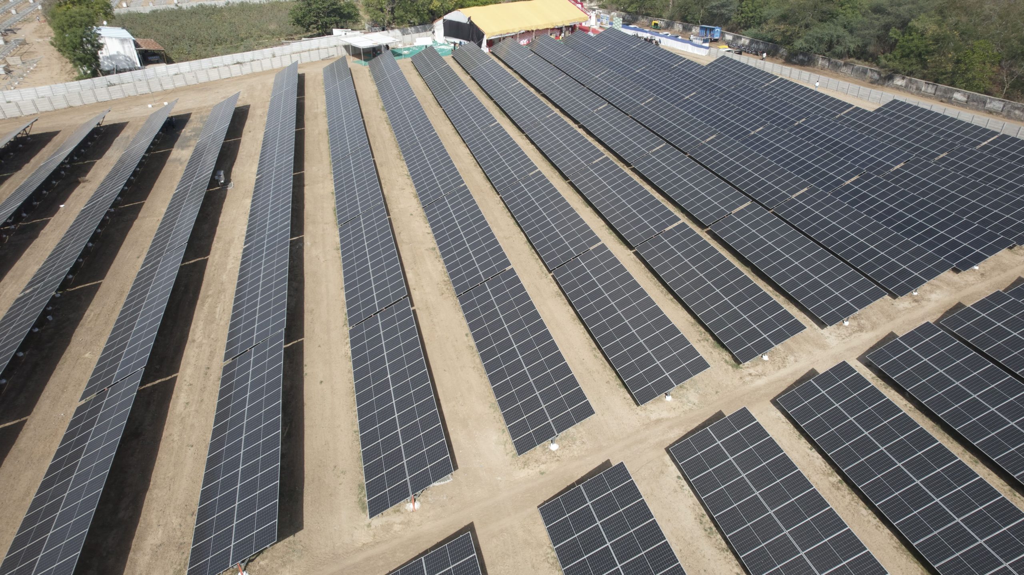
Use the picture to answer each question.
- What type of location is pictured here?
solar farm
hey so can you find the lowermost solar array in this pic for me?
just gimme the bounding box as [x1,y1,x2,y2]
[392,532,479,575]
